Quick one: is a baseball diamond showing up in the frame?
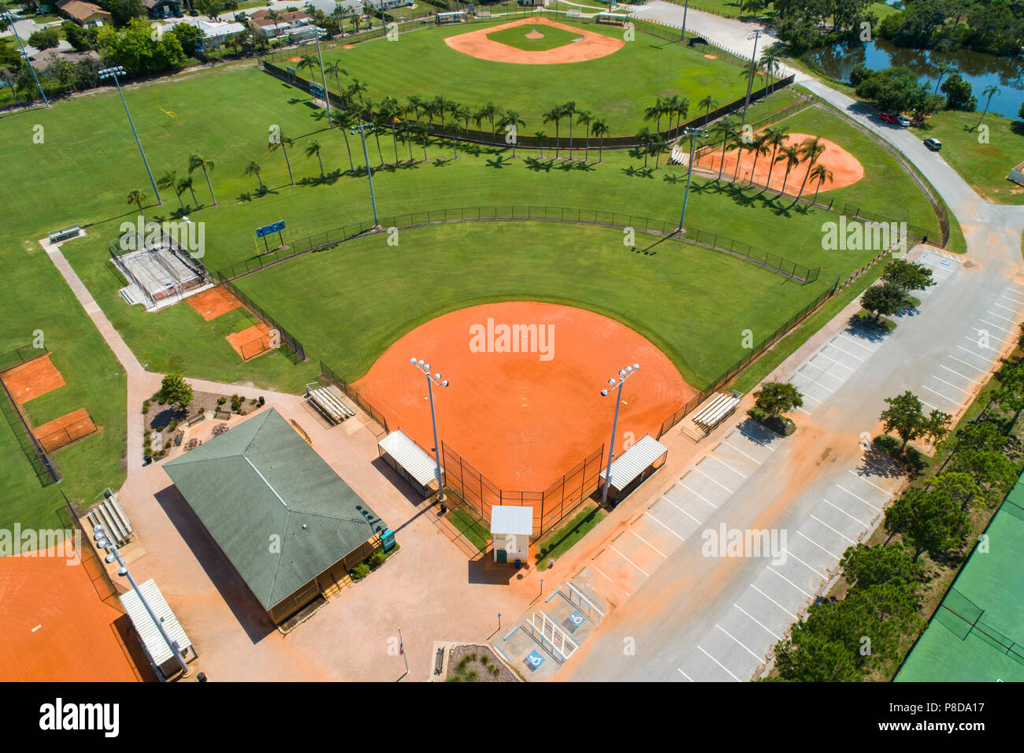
Yes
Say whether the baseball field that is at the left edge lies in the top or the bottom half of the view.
bottom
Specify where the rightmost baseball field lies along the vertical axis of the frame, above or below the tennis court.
above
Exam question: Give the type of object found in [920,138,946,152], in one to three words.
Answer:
car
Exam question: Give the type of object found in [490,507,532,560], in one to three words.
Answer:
building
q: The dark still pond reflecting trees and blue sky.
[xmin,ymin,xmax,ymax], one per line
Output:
[797,36,1024,122]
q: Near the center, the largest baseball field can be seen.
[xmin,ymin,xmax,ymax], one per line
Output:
[225,220,833,535]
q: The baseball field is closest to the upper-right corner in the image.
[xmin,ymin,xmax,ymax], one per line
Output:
[695,103,946,246]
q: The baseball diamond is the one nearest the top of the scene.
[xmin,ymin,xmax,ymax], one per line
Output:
[270,17,792,149]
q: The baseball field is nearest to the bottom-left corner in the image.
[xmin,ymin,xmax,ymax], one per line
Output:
[0,520,188,753]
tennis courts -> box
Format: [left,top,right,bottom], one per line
[852,472,1024,753]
